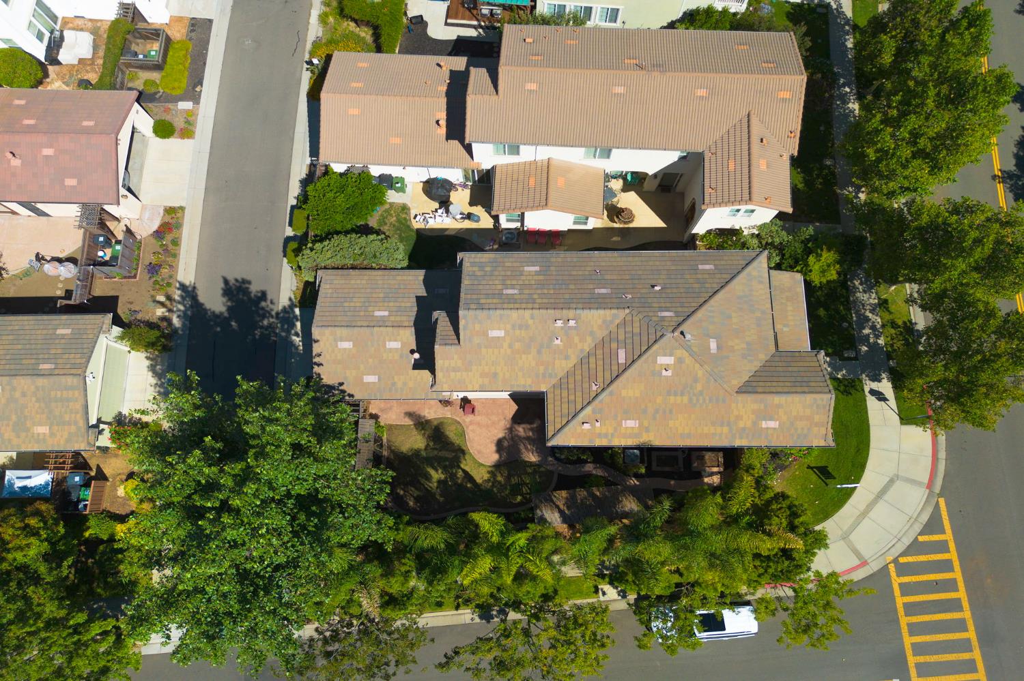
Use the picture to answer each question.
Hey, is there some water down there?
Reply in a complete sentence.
No, there is no water in the image.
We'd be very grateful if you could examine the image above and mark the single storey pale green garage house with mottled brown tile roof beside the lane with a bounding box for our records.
[0,312,132,453]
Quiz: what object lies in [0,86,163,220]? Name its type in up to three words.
house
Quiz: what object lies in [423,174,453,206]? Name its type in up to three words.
umbrella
